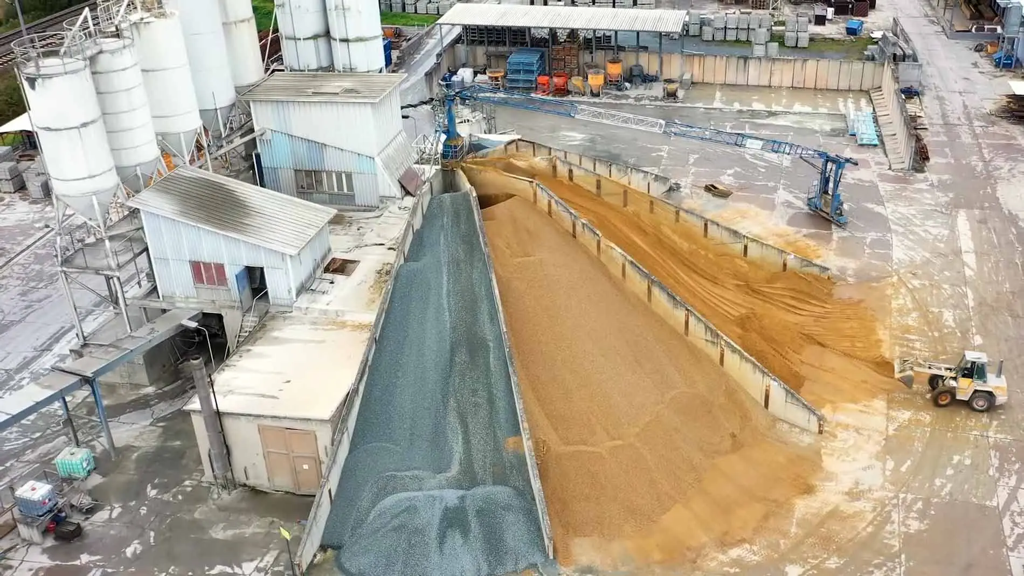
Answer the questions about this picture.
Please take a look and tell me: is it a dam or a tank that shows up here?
tank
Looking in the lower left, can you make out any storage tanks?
Yes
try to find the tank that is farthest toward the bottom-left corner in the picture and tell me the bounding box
[9,478,57,526]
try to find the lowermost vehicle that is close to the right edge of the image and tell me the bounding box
[891,345,1019,416]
